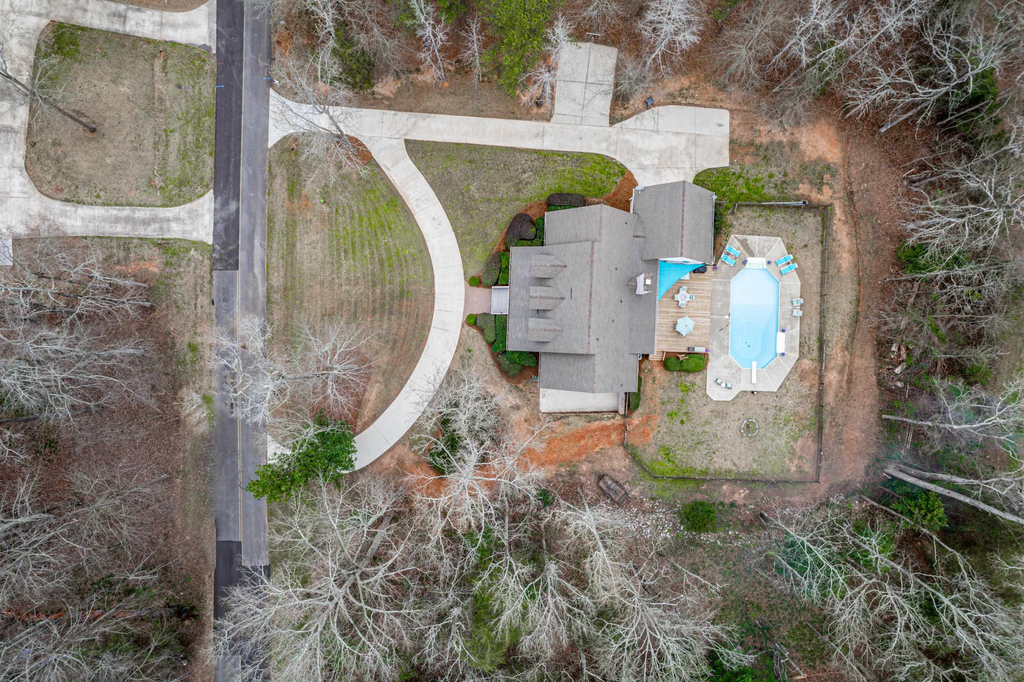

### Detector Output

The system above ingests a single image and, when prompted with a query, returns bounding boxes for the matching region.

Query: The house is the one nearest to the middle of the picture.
[505,181,716,393]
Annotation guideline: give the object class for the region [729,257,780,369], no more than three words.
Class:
swimming pool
